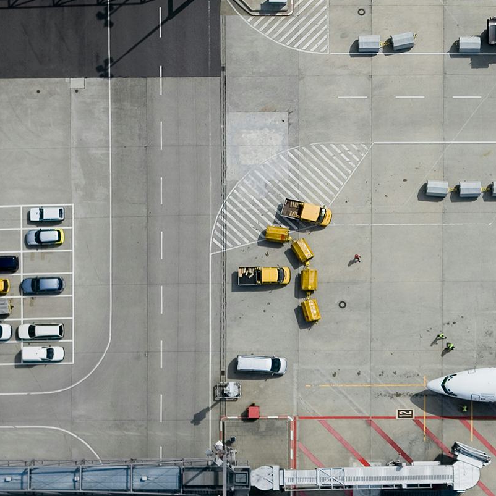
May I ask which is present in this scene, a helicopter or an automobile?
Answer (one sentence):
Looking from above, you can make out an automobile.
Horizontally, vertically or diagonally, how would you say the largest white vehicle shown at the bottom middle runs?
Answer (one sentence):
The largest white vehicle shown at the bottom middle runs horizontally in the image.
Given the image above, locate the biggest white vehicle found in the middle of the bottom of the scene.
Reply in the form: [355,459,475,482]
[238,355,287,377]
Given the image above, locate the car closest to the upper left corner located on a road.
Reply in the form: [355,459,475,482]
[31,205,66,223]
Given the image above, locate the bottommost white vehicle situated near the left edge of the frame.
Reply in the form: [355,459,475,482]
[22,344,65,365]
